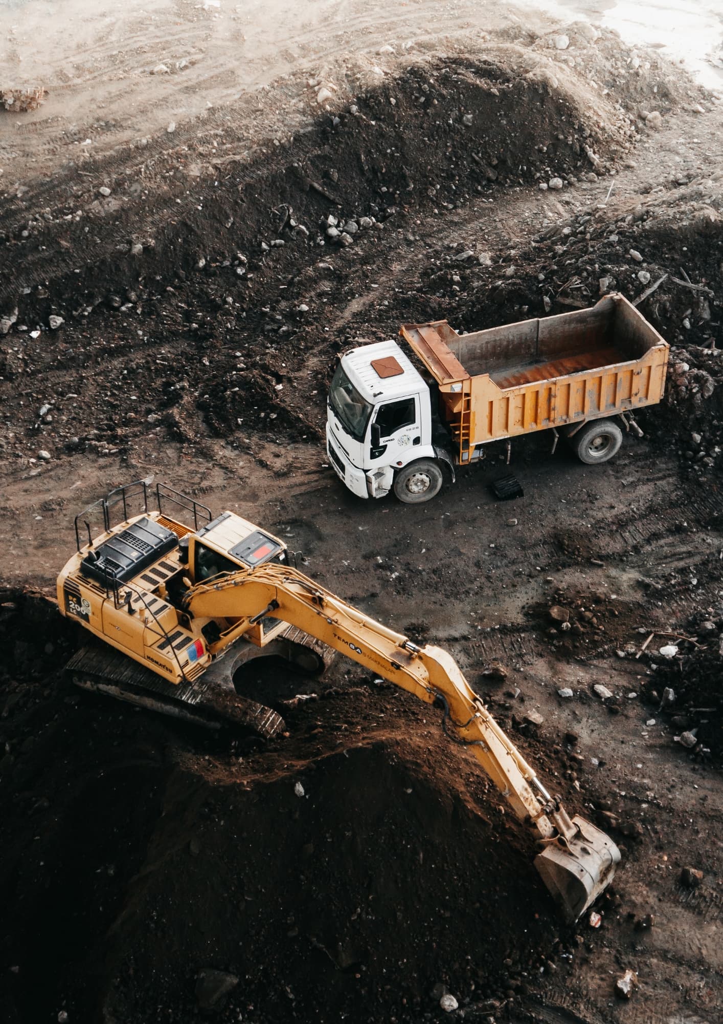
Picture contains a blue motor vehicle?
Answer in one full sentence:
No, the frame has no blue motor vehicle in it.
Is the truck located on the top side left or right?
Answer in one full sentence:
You can find the truck located on the top side on the right side of the picture.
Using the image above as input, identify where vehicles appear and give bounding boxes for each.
[327,291,671,504]
[57,483,626,929]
